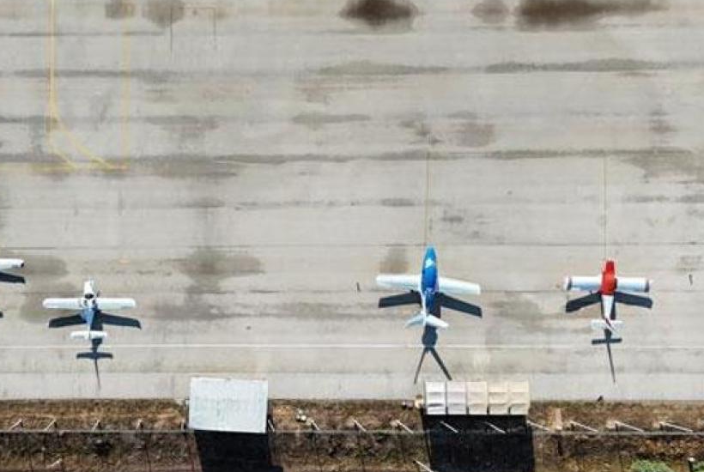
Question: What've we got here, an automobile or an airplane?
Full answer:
There is an airplane in the scene.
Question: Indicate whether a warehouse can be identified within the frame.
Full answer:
No, the scene contains no warehouse.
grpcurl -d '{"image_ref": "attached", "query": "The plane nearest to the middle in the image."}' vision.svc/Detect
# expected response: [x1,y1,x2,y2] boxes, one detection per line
[378,247,481,330]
